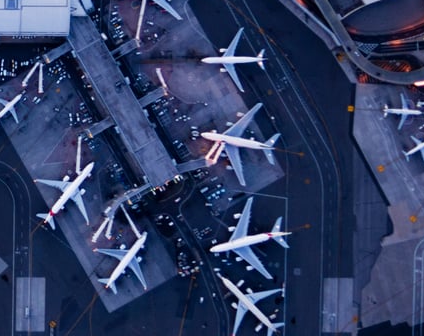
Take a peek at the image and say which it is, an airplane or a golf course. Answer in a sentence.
There is an airplane in the scene.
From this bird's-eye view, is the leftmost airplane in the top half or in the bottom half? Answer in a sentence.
It is in the top half that the leftmost airplane appears.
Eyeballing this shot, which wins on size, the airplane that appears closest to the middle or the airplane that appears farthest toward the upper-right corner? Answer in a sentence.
The airplane that appears closest to the middle covers a greater area than the airplane that appears farthest toward the upper-right corner.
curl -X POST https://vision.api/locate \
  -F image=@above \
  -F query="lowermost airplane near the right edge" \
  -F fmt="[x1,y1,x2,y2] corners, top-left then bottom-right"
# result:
[403,135,424,162]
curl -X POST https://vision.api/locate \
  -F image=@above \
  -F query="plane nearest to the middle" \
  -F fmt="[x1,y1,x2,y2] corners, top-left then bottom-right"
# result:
[202,102,280,187]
